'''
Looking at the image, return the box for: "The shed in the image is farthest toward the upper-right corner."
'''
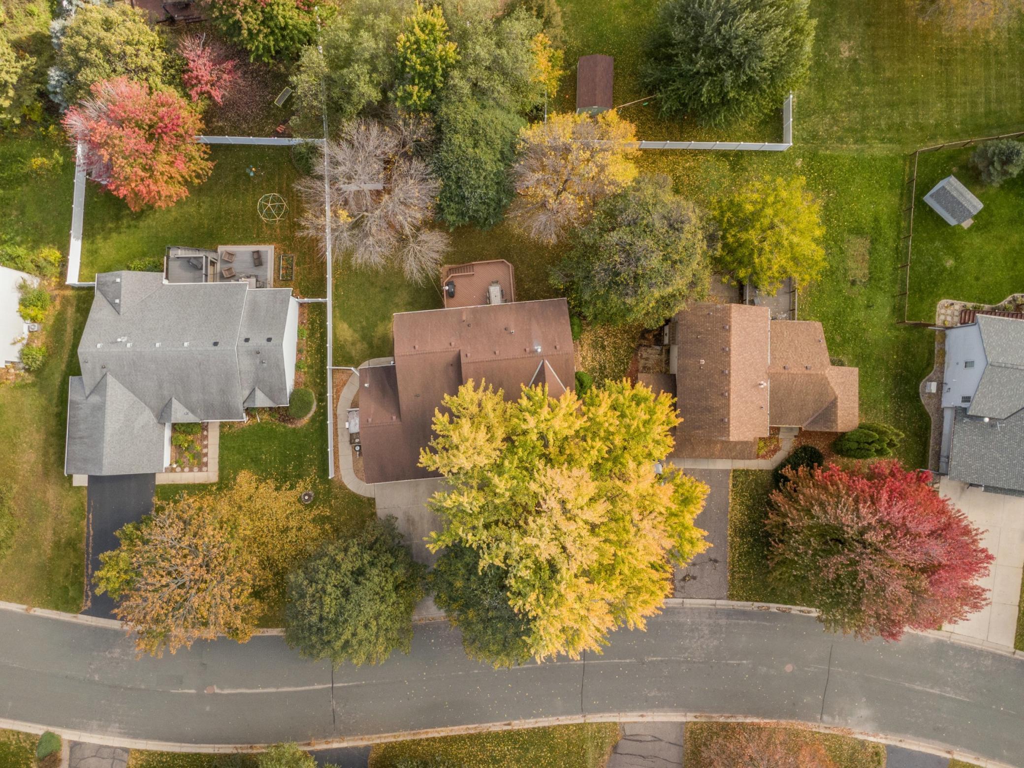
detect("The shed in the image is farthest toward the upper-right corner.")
[923,171,987,227]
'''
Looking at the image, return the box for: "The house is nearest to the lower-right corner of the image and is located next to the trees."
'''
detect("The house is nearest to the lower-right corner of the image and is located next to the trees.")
[936,312,1024,498]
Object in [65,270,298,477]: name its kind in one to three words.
house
